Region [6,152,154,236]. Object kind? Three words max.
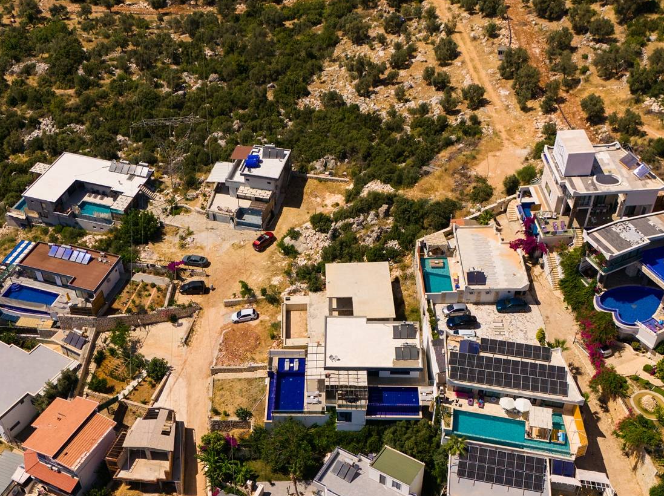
house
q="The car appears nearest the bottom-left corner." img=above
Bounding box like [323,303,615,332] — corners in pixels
[179,279,207,296]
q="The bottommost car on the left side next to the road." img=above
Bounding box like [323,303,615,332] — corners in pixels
[232,308,259,323]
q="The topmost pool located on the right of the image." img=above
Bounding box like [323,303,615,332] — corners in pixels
[516,202,536,220]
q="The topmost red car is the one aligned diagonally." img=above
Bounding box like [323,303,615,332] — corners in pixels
[253,233,278,252]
